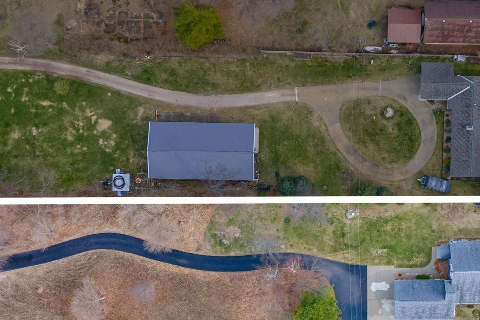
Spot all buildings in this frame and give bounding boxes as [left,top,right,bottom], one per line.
[146,121,256,182]
[423,2,480,47]
[419,62,480,176]
[394,240,480,320]
[387,9,421,46]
